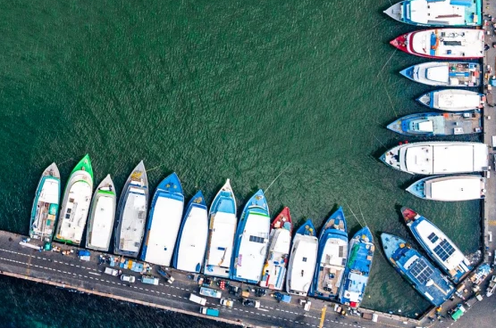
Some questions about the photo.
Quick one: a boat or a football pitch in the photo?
boat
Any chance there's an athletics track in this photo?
No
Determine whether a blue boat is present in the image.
Yes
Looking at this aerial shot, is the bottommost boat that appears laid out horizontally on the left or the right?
right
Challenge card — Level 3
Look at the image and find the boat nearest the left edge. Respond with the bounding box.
[30,163,60,241]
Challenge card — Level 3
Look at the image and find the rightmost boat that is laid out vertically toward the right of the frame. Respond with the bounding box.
[337,226,371,308]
